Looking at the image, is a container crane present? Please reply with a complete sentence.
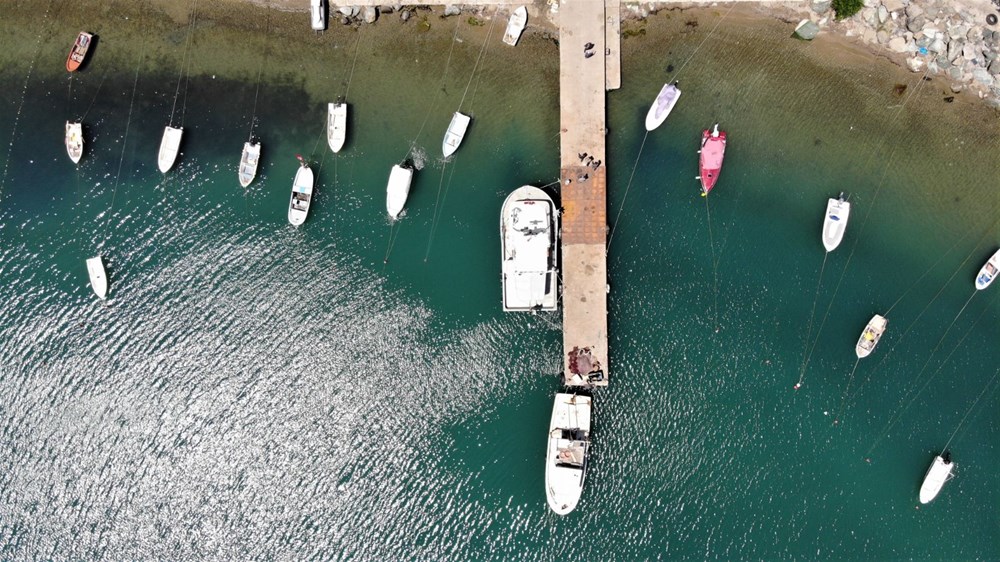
No, the picture doesn't show any container crane.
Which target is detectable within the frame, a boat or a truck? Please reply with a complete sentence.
The one in the frame is a boat.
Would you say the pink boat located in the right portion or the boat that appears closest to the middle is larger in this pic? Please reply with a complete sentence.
Of the two, the boat that appears closest to the middle is larger and the pink boat located in the right portion is the smaller one.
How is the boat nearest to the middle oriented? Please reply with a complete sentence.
The boat nearest to the middle is laid out vertically.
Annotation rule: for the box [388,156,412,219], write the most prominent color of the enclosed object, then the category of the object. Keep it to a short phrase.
white boat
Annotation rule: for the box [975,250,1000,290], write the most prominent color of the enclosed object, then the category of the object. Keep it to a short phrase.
white boat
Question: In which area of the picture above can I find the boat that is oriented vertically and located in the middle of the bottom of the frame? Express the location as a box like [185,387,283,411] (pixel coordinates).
[545,392,593,516]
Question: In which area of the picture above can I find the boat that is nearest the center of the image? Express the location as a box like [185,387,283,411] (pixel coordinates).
[500,185,562,314]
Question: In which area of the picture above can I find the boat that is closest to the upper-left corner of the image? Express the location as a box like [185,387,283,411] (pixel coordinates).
[68,31,94,71]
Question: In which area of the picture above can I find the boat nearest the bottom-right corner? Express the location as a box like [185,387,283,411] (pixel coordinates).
[919,448,953,504]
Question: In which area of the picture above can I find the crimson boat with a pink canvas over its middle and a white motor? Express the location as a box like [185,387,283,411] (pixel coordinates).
[698,119,725,194]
